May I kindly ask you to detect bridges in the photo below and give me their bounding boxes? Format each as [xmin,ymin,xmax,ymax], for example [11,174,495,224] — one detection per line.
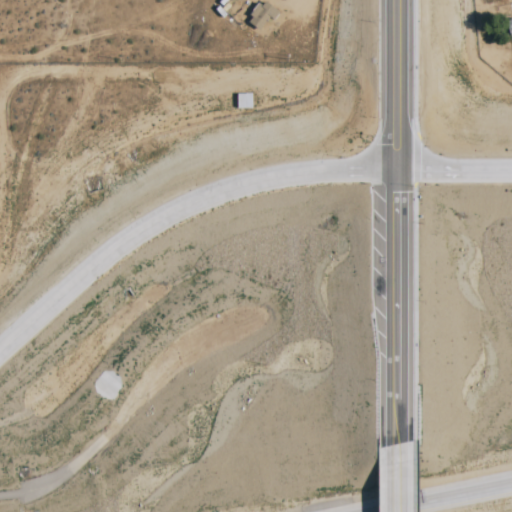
[378,439,420,512]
